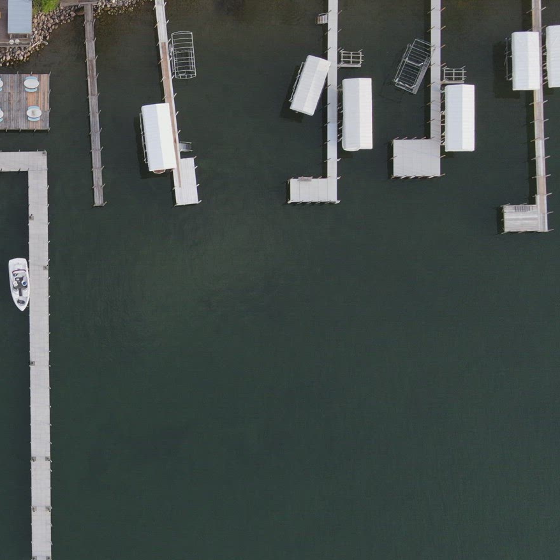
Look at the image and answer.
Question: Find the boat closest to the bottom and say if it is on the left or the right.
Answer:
left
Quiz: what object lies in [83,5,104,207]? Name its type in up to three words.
pier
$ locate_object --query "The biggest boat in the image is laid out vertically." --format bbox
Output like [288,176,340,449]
[8,257,30,311]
